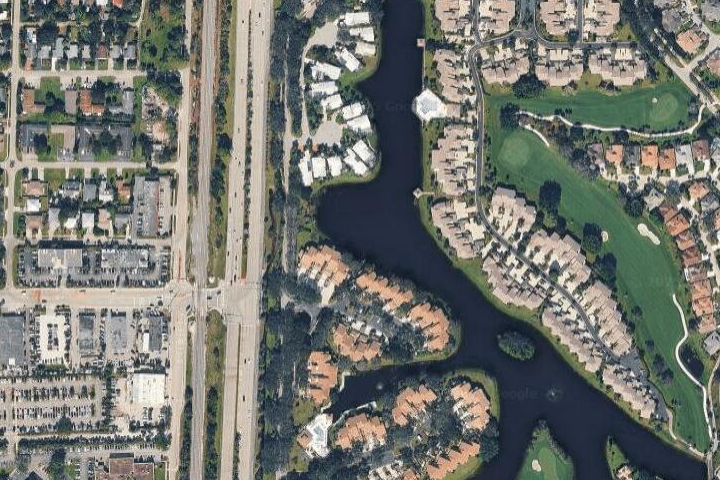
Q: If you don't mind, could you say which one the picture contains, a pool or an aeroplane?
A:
pool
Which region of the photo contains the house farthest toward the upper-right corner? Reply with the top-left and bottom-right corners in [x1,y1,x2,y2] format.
[701,0,720,21]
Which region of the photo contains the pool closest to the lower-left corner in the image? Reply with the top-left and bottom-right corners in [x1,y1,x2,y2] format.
[305,414,332,459]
